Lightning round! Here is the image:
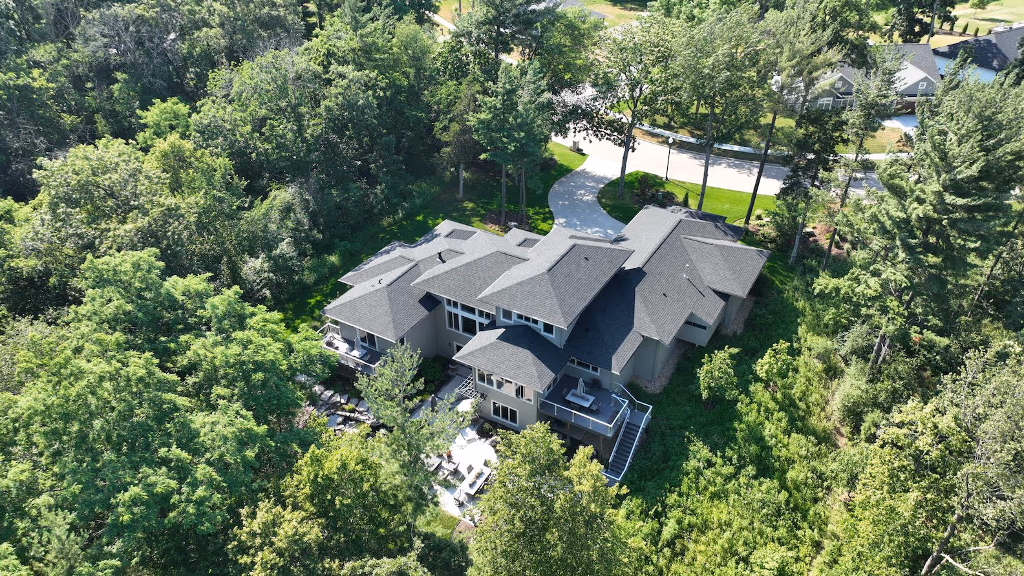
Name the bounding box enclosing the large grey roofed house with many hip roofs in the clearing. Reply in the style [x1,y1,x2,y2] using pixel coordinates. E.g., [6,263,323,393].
[322,204,772,449]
